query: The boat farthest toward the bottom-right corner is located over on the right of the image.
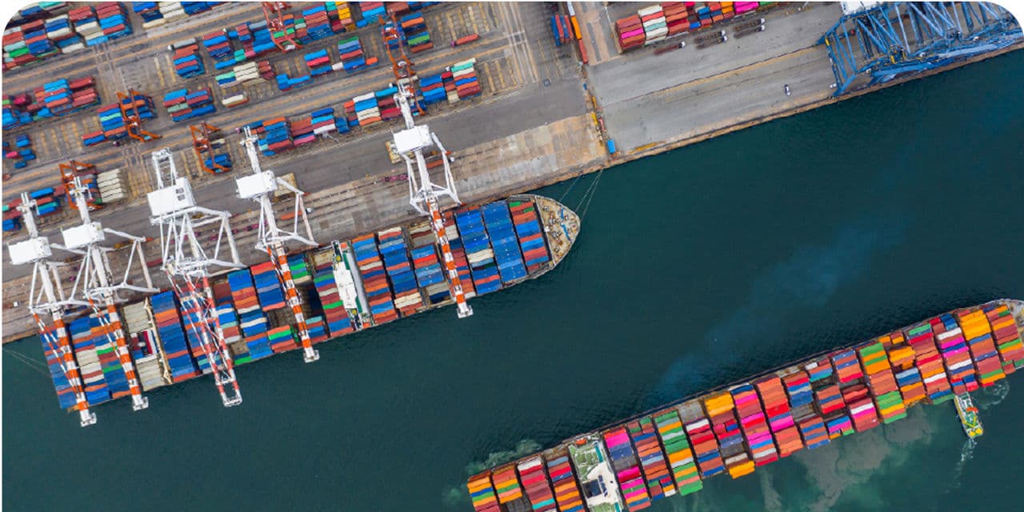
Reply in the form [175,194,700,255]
[949,389,980,438]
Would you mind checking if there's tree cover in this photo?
No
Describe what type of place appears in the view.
port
